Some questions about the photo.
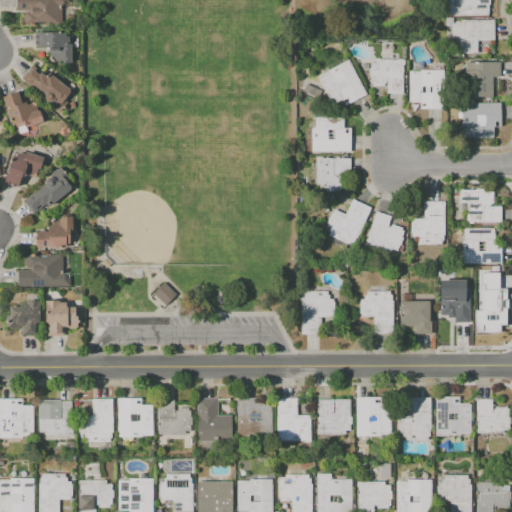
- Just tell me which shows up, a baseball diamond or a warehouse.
baseball diamond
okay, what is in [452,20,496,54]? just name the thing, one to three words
house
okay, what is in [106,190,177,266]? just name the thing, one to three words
baseball field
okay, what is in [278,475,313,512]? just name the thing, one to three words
house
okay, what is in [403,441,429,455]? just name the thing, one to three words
swimming pool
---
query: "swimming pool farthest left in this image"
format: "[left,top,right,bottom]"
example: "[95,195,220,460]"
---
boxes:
[126,459,150,474]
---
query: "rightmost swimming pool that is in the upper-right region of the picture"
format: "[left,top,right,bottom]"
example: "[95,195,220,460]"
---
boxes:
[411,45,432,64]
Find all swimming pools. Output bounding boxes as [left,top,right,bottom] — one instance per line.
[411,45,432,64]
[351,46,372,60]
[403,441,429,455]
[323,272,342,290]
[126,459,150,474]
[210,464,230,476]
[448,442,466,452]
